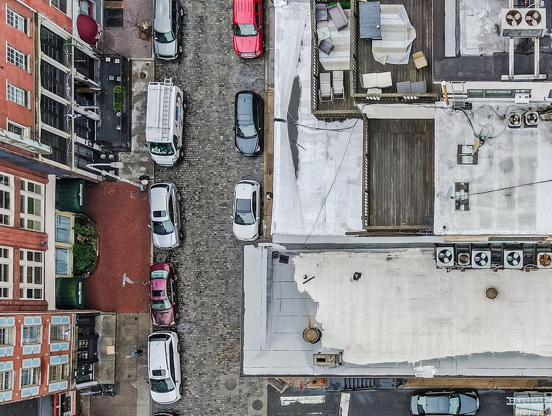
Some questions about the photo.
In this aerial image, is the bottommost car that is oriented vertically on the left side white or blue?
white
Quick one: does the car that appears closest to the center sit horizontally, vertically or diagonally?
vertically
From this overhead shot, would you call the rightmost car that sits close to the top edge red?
Yes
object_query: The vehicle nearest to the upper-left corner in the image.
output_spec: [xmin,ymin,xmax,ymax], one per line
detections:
[148,0,185,63]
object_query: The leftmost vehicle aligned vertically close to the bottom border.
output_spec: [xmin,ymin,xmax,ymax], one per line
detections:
[145,329,183,404]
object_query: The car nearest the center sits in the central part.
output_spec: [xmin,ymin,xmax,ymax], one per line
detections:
[229,175,262,241]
